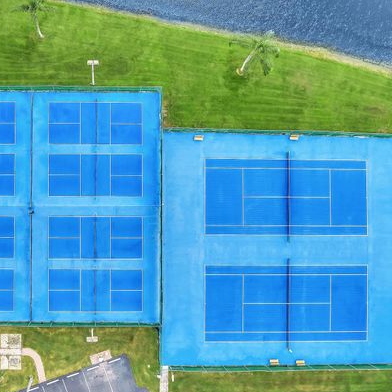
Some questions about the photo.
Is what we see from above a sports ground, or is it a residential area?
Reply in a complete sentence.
It's a sports ground.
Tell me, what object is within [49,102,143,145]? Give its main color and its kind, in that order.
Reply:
blue sports court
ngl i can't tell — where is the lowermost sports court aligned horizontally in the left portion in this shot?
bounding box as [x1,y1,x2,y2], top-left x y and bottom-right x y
[48,269,143,313]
